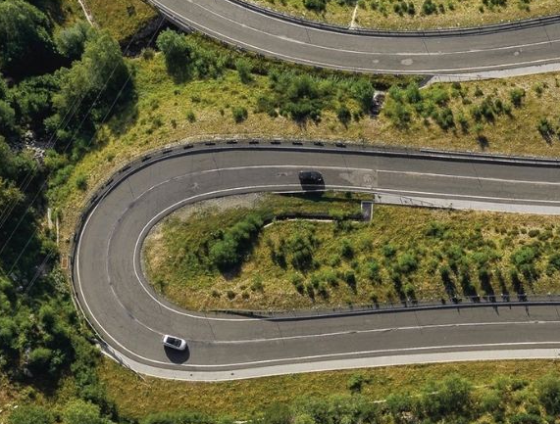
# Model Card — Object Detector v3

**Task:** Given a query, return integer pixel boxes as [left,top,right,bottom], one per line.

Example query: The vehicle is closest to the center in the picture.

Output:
[298,170,322,183]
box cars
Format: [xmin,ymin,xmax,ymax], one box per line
[298,170,322,183]
[161,333,187,350]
